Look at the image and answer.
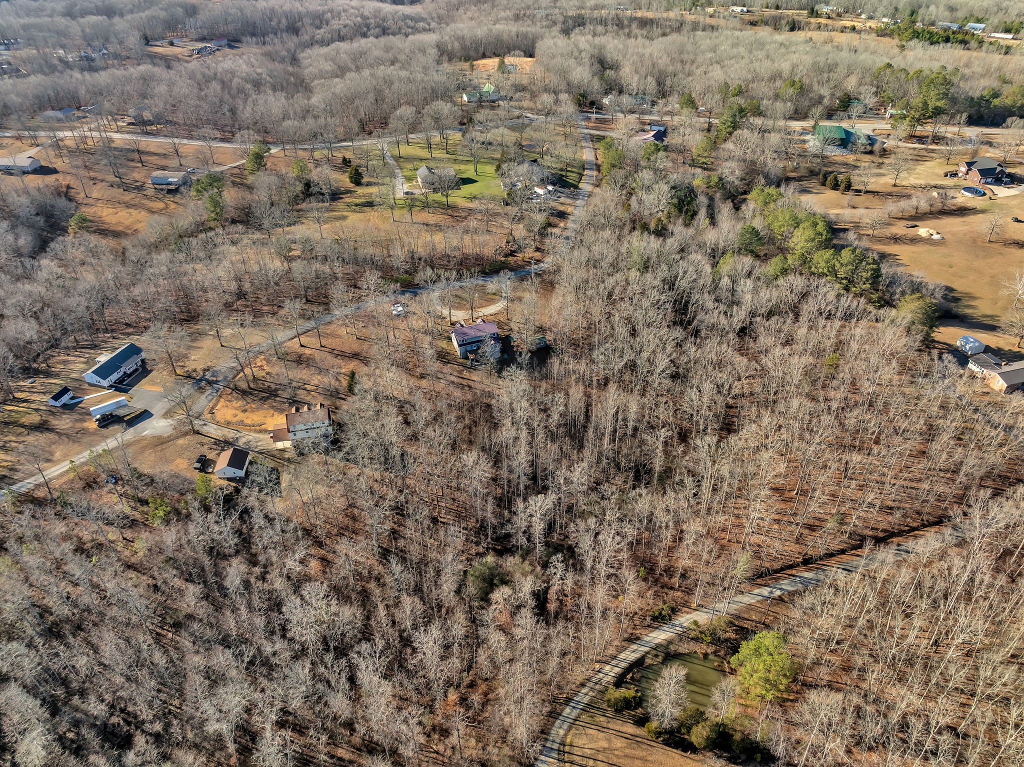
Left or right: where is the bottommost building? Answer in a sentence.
It is on the left.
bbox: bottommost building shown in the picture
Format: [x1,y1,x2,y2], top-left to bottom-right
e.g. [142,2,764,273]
[212,438,256,479]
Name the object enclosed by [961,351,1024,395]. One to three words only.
house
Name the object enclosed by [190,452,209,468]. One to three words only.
vehicle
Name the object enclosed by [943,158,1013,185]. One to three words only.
house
